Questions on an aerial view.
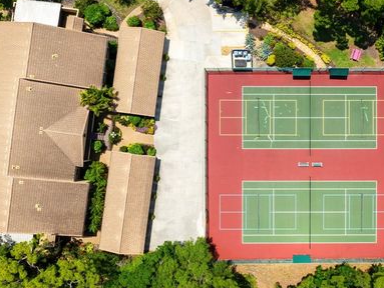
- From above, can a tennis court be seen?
Yes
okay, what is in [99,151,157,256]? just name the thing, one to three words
building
